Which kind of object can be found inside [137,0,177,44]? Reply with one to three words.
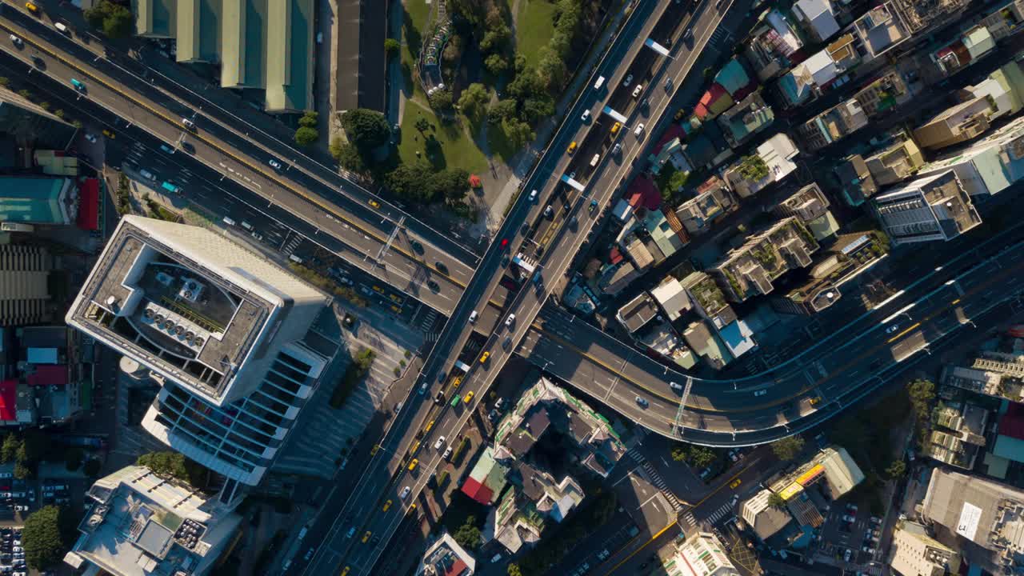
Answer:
shed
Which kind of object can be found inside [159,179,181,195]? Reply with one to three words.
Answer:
vehicle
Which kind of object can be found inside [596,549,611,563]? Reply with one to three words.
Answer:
vehicle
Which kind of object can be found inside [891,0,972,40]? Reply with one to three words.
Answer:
building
